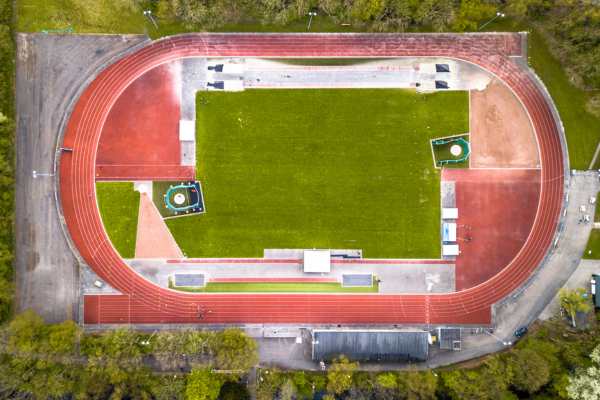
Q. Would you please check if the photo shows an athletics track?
Yes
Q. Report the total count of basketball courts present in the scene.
0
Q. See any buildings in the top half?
No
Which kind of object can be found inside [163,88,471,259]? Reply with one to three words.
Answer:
sports field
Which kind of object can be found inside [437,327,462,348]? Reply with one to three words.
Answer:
building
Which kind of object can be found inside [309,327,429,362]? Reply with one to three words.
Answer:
building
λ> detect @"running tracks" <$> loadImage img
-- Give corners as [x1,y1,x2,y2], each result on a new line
[60,32,570,324]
